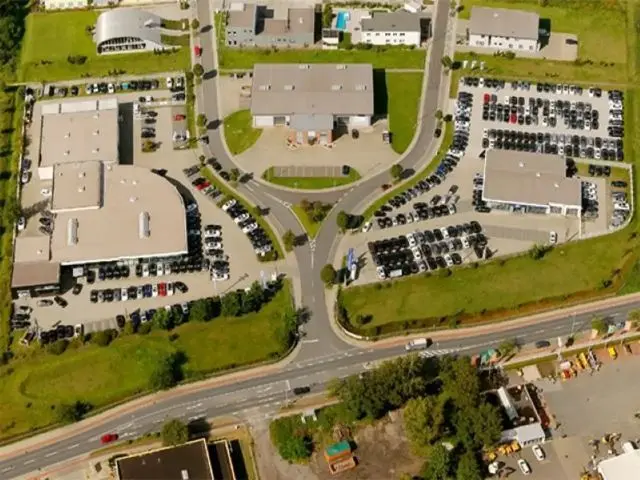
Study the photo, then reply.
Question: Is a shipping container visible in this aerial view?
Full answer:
Yes, there's a shipping container down there.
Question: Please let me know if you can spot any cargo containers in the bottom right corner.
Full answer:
Yes, there is a cargo container in the bottom right corner.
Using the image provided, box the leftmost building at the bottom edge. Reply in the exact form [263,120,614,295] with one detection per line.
[115,437,216,480]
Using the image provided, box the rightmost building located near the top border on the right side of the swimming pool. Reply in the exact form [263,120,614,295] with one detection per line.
[468,5,541,52]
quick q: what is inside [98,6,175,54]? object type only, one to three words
hangar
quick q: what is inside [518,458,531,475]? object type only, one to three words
vehicle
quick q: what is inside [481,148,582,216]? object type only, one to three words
building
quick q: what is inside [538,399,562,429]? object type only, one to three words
shipping container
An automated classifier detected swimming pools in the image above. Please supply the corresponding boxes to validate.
[334,10,351,30]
